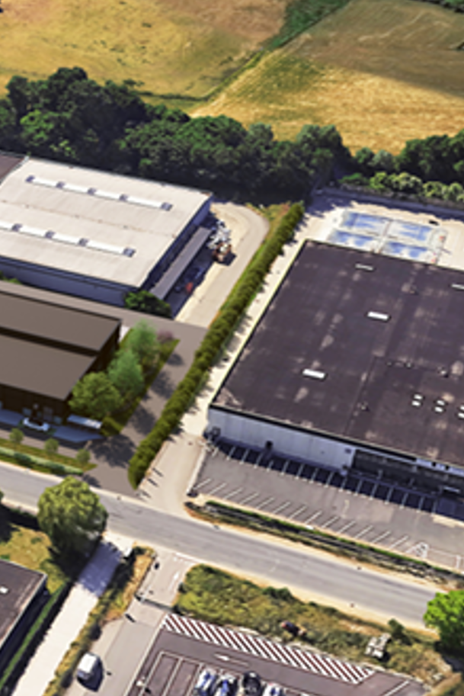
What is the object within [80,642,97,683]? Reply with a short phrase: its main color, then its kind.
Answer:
white vehicle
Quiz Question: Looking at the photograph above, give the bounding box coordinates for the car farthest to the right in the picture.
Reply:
[264,678,284,696]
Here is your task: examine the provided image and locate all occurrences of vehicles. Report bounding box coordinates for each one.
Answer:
[193,667,214,694]
[241,671,262,696]
[80,642,97,683]
[264,678,284,696]
[213,673,234,696]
